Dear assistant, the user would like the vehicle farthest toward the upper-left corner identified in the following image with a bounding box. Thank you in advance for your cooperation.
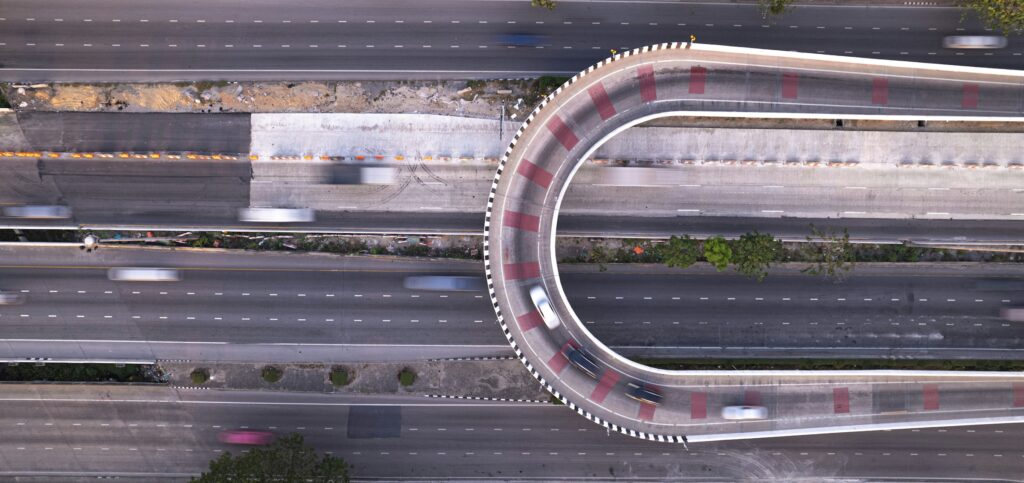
[12,205,59,219]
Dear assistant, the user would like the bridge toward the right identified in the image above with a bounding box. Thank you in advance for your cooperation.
[484,42,1024,442]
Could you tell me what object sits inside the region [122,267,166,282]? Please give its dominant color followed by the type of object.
white car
